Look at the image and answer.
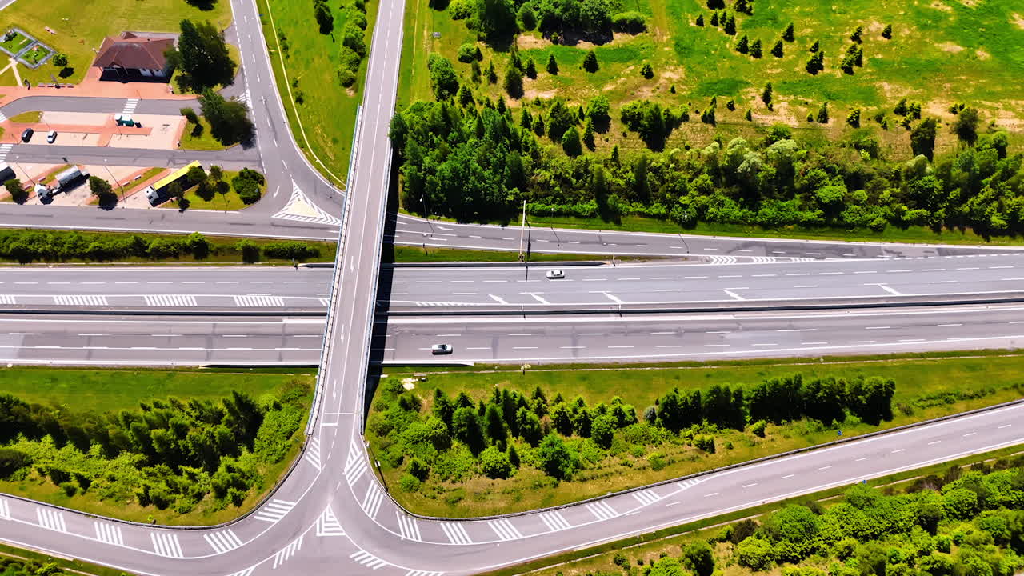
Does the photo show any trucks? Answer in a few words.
Yes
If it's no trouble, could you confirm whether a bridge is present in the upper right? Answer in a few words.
No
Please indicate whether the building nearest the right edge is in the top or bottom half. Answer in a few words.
top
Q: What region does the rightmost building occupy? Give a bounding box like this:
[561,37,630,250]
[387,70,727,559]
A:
[93,29,175,76]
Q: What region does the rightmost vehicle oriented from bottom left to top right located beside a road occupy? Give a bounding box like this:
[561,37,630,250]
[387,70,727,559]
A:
[143,165,204,207]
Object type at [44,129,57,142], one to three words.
vehicle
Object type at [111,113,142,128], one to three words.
vehicle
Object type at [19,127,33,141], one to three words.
car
